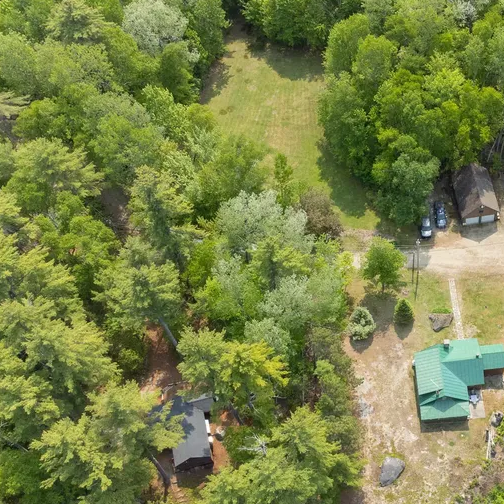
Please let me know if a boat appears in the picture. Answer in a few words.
No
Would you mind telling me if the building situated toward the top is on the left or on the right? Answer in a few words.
right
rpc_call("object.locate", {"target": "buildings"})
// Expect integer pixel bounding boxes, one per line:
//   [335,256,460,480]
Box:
[450,165,500,227]
[414,338,504,423]
[145,390,222,471]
